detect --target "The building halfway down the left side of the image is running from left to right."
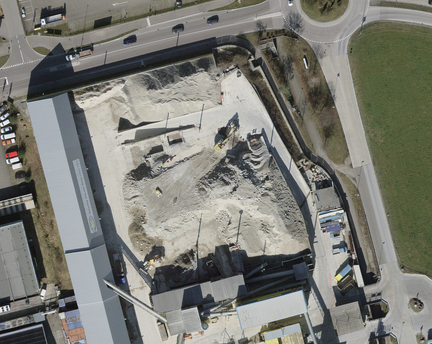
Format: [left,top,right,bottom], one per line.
[0,194,36,216]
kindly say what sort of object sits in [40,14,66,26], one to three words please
vehicle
